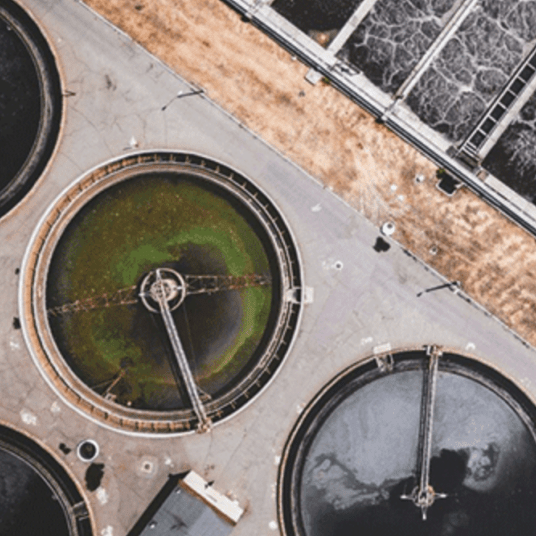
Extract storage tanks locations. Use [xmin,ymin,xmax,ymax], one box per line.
[0,424,96,536]
[0,0,63,224]
[18,151,312,437]
[277,345,536,536]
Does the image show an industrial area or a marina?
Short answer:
industrial area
